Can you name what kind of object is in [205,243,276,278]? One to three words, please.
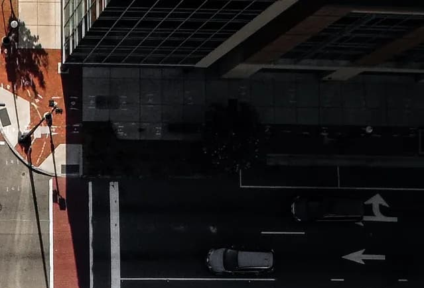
car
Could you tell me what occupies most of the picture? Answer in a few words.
paved ground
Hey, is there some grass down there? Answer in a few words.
No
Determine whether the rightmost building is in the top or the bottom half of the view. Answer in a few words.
top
